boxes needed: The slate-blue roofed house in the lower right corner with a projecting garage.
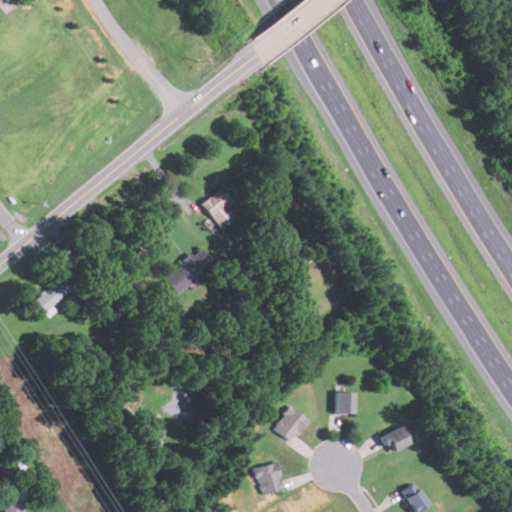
[402,480,436,512]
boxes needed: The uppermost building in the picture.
[200,192,232,226]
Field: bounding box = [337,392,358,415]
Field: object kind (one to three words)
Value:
house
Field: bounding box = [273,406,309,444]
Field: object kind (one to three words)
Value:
house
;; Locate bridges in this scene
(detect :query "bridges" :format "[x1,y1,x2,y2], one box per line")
[249,0,356,68]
